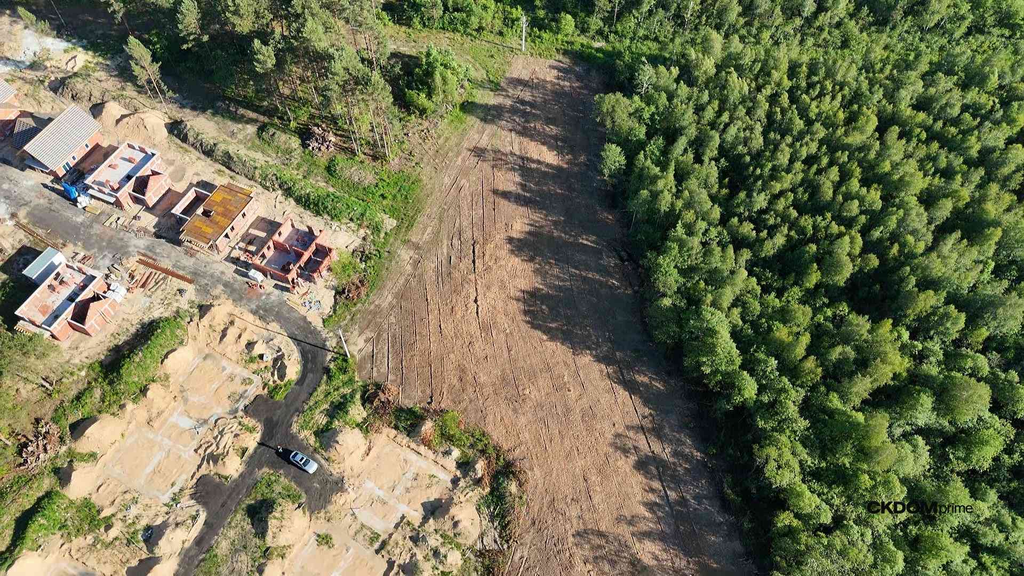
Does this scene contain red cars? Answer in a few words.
No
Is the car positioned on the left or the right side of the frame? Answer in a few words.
left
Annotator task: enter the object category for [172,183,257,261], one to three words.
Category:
house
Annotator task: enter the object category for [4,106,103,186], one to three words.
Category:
house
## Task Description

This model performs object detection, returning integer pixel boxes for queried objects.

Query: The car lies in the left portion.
[290,449,318,475]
